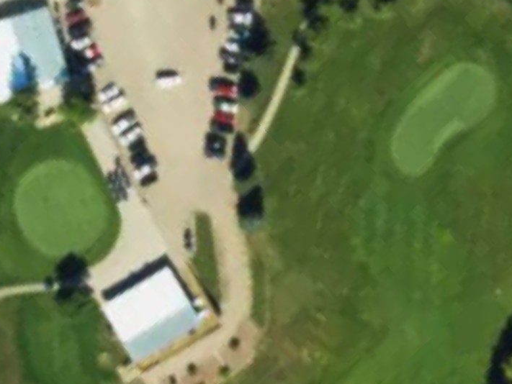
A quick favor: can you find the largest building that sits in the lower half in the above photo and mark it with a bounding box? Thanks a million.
[102,260,221,383]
